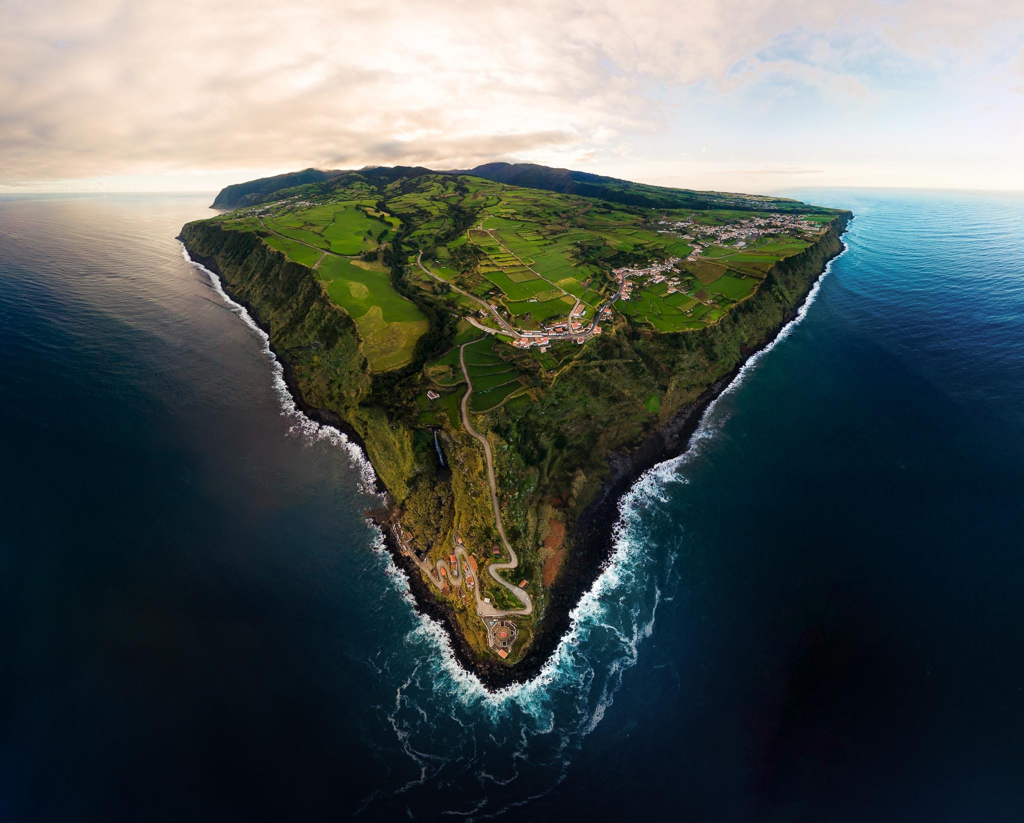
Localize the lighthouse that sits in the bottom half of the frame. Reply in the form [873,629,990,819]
[489,619,518,650]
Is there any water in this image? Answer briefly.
Yes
